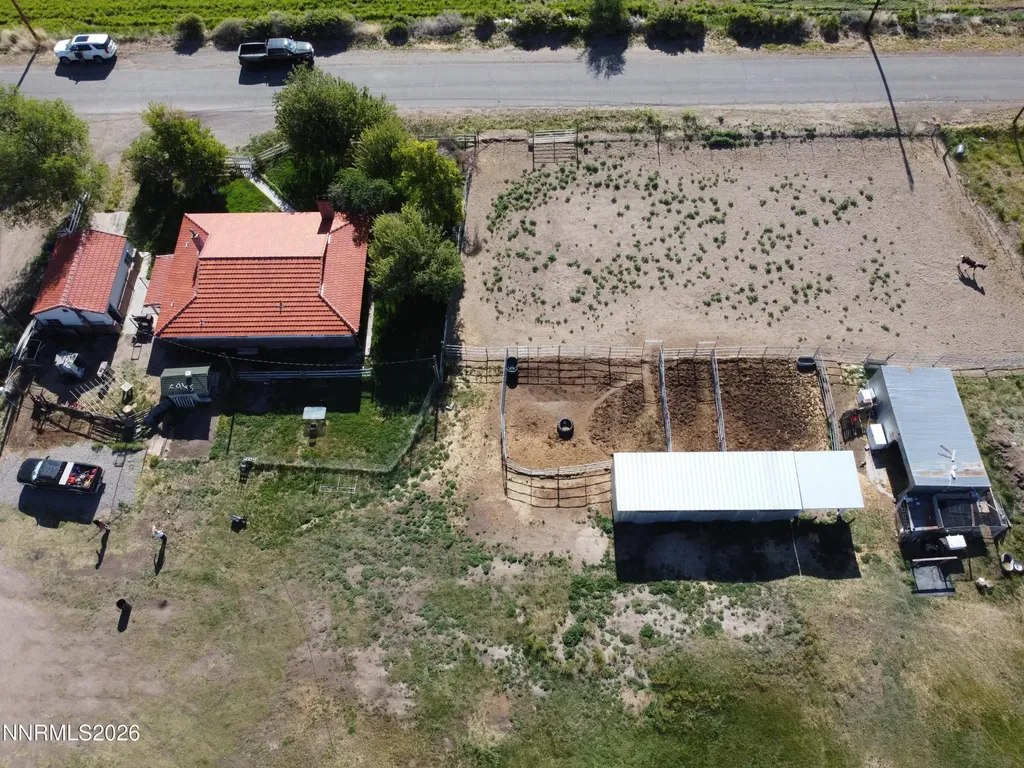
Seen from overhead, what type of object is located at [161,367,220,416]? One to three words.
shed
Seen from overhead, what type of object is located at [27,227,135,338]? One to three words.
building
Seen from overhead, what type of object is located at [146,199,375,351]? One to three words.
house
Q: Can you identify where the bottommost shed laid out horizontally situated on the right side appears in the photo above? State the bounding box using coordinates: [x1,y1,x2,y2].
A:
[608,450,863,523]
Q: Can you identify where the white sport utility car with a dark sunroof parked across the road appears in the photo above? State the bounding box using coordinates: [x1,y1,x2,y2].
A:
[49,31,115,63]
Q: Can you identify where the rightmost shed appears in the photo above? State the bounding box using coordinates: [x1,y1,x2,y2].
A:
[871,367,987,501]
